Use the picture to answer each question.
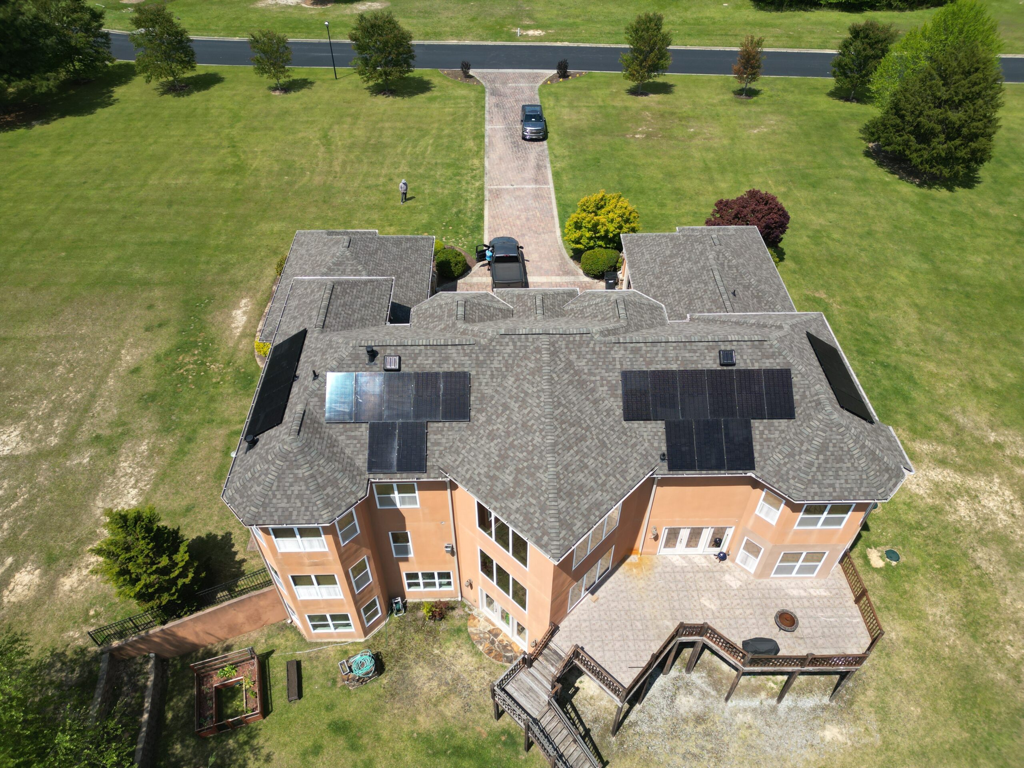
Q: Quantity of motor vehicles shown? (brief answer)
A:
2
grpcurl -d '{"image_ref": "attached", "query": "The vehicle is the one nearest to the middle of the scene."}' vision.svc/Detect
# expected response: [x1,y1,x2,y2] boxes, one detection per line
[475,230,527,289]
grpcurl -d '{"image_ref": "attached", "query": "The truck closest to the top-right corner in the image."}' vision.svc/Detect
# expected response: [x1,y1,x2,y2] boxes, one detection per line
[519,93,549,134]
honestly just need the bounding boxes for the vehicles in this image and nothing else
[519,93,549,134]
[475,230,527,289]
